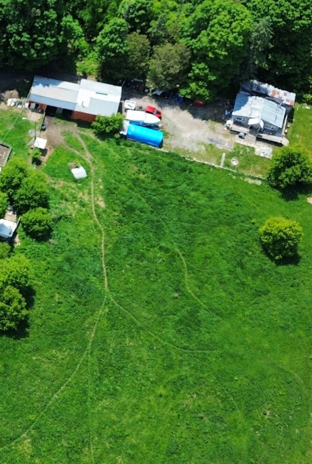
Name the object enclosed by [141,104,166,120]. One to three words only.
vehicle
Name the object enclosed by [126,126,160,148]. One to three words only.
boat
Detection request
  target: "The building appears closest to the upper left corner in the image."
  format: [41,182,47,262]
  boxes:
[24,75,76,118]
